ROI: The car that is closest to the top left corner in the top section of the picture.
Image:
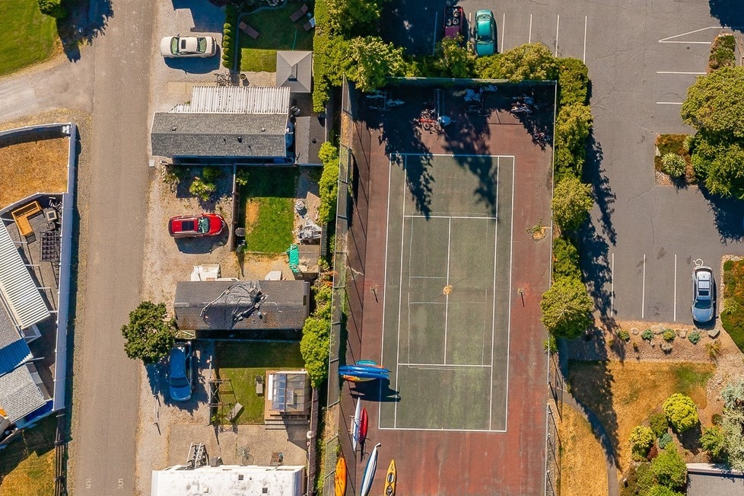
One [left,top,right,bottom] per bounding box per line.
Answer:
[164,34,221,59]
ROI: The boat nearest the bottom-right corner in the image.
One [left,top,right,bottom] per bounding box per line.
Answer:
[384,457,397,496]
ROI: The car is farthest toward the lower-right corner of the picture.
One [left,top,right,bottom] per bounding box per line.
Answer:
[691,264,718,324]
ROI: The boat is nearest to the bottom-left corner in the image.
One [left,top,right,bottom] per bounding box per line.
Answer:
[335,456,348,496]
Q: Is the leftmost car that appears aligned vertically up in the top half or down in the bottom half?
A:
bottom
